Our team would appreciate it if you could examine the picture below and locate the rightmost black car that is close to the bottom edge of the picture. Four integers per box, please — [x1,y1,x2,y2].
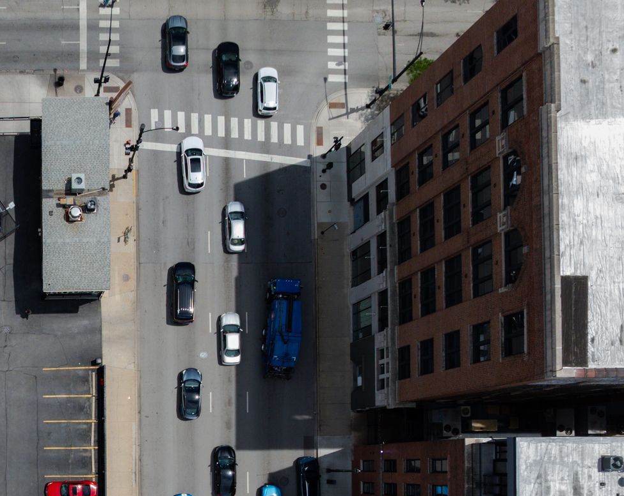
[294,456,323,496]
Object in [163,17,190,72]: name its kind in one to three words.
car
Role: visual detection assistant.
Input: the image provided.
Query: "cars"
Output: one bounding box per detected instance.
[44,480,97,496]
[211,444,238,496]
[294,456,323,496]
[180,138,206,193]
[170,265,198,322]
[178,369,203,421]
[163,17,190,72]
[253,68,280,119]
[258,484,281,496]
[216,313,242,365]
[214,43,241,98]
[222,204,247,254]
